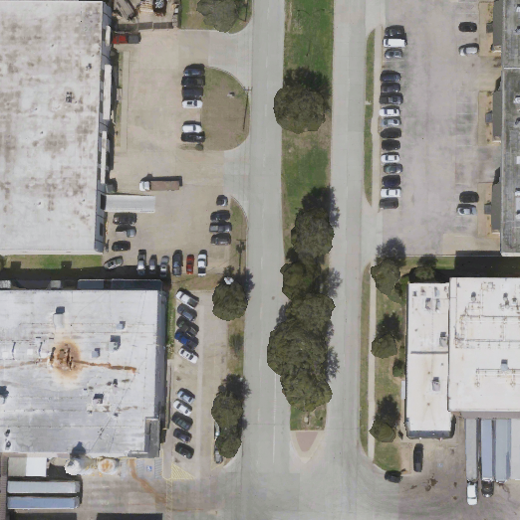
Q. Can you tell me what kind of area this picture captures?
industrial area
